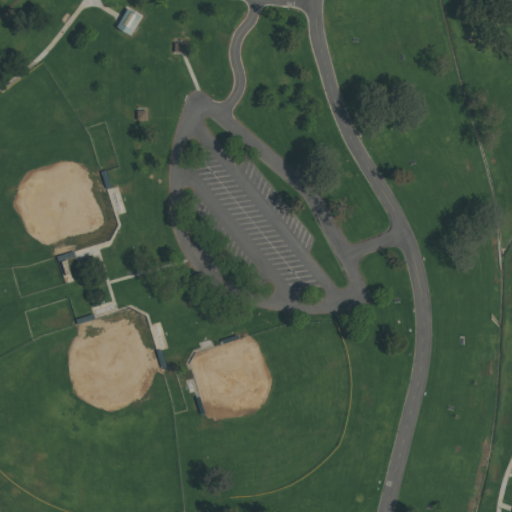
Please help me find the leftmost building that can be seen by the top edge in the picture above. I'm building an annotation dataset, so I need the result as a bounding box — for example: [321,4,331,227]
[116,6,143,36]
